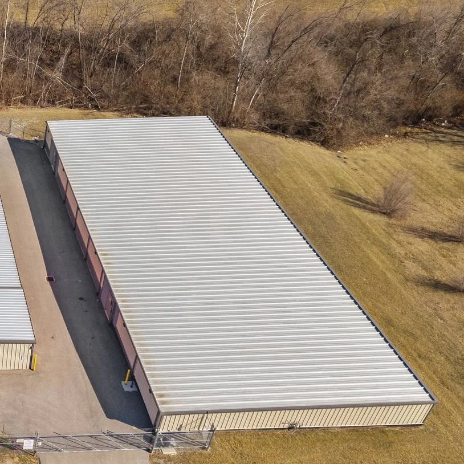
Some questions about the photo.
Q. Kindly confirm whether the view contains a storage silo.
No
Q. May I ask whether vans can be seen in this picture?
No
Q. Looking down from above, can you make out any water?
No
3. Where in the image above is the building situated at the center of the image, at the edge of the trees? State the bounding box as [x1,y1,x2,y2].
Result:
[46,118,437,436]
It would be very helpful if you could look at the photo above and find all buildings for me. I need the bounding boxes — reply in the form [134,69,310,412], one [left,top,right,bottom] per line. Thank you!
[46,118,437,436]
[0,194,36,369]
